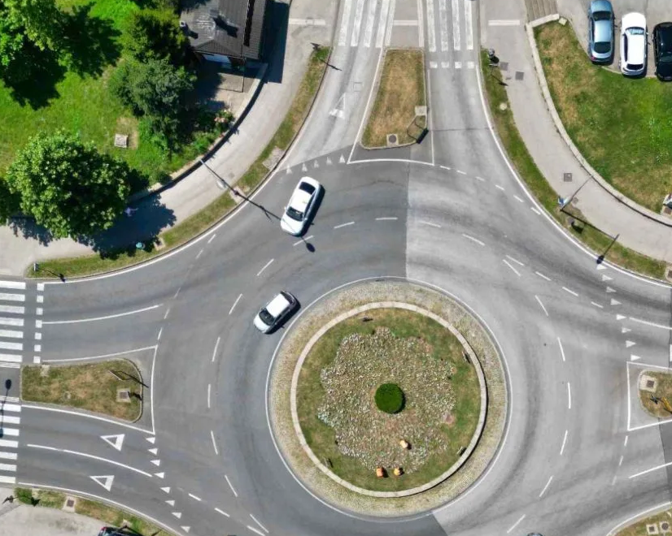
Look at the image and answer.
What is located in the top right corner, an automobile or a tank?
automobile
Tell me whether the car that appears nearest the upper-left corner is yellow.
No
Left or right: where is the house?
left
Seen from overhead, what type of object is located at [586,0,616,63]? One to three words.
car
